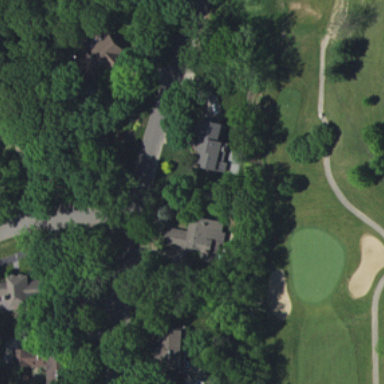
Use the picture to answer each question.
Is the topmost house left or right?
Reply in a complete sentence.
The topmost house is on the left side of the image.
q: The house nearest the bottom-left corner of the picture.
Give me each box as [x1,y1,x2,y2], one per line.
[14,350,58,384]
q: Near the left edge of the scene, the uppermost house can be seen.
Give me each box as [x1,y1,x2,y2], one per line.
[0,274,40,311]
